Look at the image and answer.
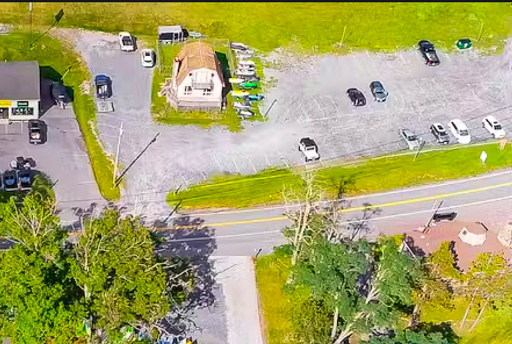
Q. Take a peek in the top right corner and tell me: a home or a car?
car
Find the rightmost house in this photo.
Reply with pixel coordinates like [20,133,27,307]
[152,41,225,110]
